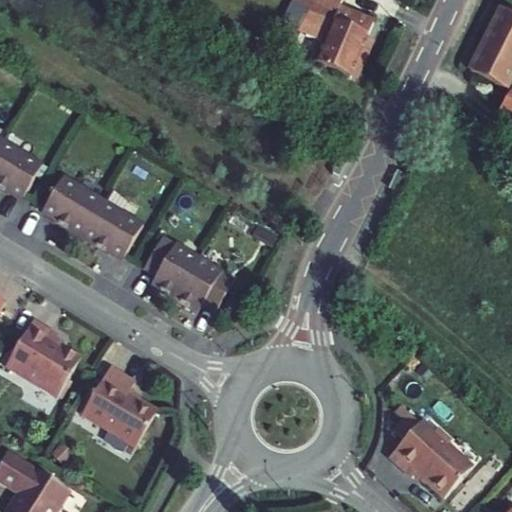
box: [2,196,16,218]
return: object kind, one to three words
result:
car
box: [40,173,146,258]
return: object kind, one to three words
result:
house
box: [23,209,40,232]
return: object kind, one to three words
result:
vehicle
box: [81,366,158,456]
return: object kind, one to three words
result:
house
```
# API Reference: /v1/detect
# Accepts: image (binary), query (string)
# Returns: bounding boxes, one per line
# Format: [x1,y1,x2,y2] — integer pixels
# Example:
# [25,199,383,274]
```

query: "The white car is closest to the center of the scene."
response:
[196,310,210,332]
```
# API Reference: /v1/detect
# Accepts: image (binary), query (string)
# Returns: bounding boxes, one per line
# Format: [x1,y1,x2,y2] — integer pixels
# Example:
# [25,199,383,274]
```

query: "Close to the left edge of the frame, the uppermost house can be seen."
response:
[0,138,43,198]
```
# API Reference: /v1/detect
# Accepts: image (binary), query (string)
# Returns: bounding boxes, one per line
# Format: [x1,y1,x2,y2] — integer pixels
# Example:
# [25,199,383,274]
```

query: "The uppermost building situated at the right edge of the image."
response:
[468,4,512,91]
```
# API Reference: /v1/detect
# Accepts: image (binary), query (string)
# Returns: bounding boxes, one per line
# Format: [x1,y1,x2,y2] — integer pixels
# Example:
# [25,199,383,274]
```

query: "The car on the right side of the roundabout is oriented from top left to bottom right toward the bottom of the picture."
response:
[409,484,432,504]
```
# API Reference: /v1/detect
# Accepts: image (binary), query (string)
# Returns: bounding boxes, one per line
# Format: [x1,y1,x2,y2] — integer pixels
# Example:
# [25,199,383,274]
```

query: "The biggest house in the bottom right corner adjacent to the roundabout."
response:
[389,419,474,498]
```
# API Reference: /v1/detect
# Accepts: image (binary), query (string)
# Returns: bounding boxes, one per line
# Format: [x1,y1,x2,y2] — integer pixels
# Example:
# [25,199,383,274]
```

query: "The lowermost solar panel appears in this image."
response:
[94,397,141,428]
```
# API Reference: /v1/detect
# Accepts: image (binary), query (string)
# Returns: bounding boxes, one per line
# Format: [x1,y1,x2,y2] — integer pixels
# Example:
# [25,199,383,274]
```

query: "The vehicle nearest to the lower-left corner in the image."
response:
[15,308,33,328]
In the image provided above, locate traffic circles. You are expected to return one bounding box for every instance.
[212,340,361,496]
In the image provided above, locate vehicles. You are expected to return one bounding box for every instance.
[133,272,148,294]
[355,0,379,12]
[409,484,432,504]
[23,209,40,232]
[2,196,16,218]
[196,310,210,332]
[15,308,33,328]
